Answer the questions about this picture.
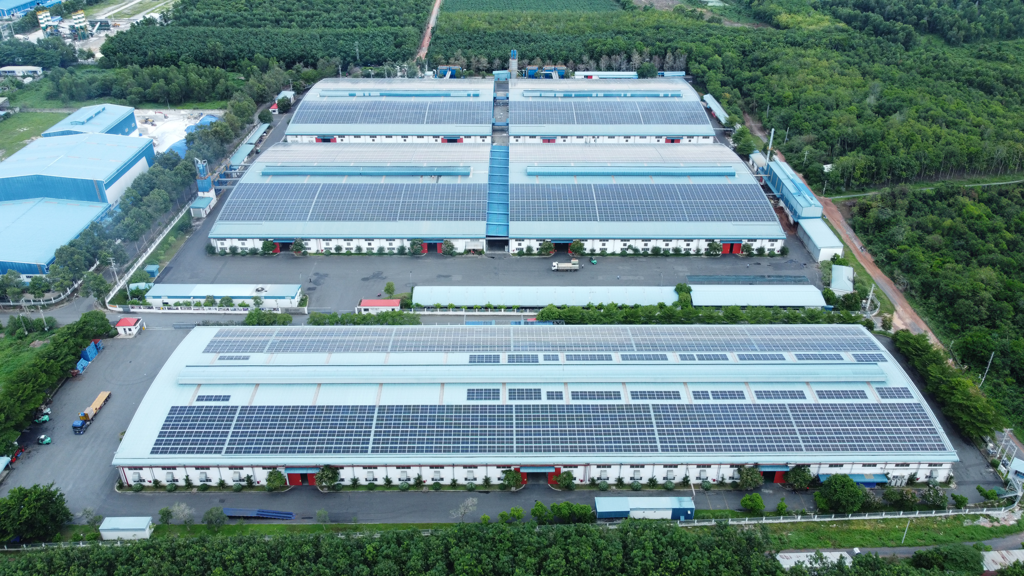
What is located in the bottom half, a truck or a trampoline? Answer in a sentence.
There is a truck in the bottom half.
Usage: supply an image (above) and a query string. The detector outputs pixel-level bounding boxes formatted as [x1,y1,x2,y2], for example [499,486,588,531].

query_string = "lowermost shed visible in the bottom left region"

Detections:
[100,518,153,538]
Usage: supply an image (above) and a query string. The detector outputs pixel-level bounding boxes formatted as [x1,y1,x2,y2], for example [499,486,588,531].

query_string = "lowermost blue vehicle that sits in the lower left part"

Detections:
[218,505,295,521]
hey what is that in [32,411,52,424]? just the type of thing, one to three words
vehicle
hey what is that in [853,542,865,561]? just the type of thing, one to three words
vehicle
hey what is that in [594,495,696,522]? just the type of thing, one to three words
building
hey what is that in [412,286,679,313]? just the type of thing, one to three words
shed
